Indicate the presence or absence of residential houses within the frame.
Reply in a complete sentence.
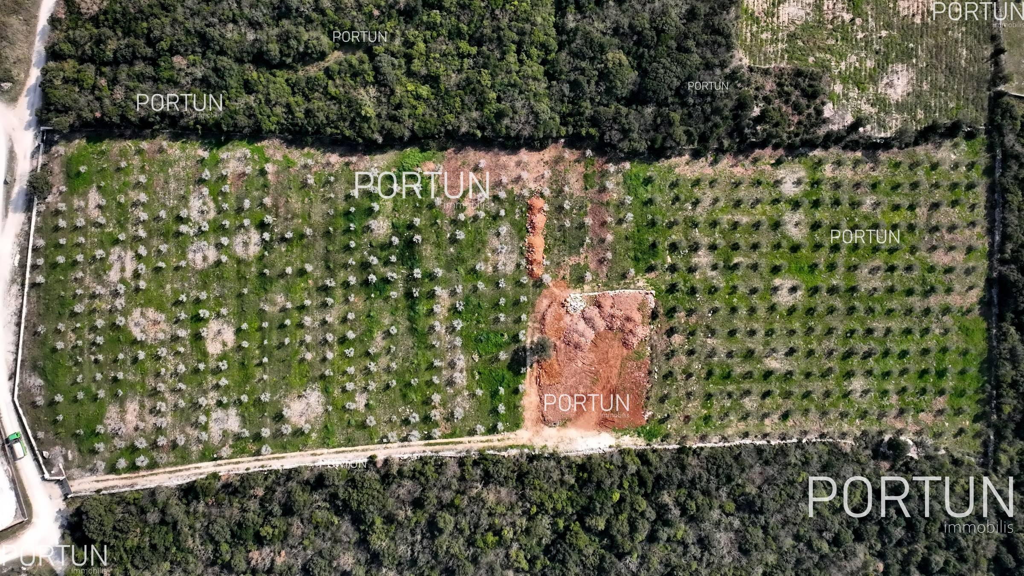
No, there appears to be no residential house in this shot.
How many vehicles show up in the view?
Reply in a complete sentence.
The picture shows just 1 vehicle.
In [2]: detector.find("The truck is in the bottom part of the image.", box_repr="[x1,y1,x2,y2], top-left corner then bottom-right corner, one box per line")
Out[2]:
[9,433,32,462]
